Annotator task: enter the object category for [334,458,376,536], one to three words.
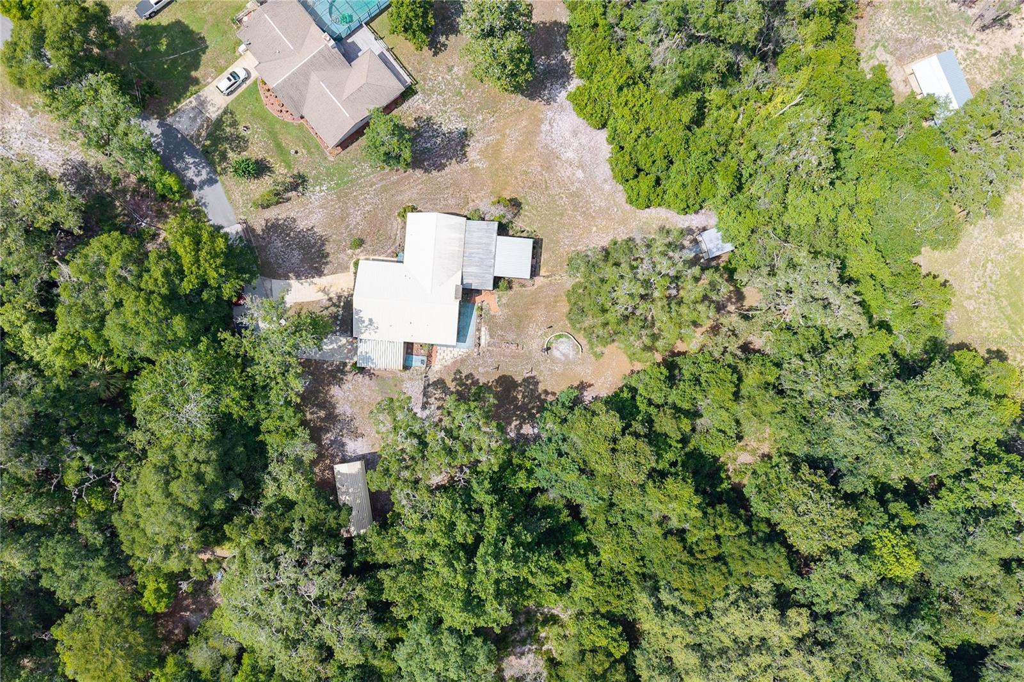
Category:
shed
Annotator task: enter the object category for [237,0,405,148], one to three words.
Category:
house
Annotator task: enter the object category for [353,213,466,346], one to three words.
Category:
house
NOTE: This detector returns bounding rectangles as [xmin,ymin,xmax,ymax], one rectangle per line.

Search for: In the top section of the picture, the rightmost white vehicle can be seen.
[212,65,248,94]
